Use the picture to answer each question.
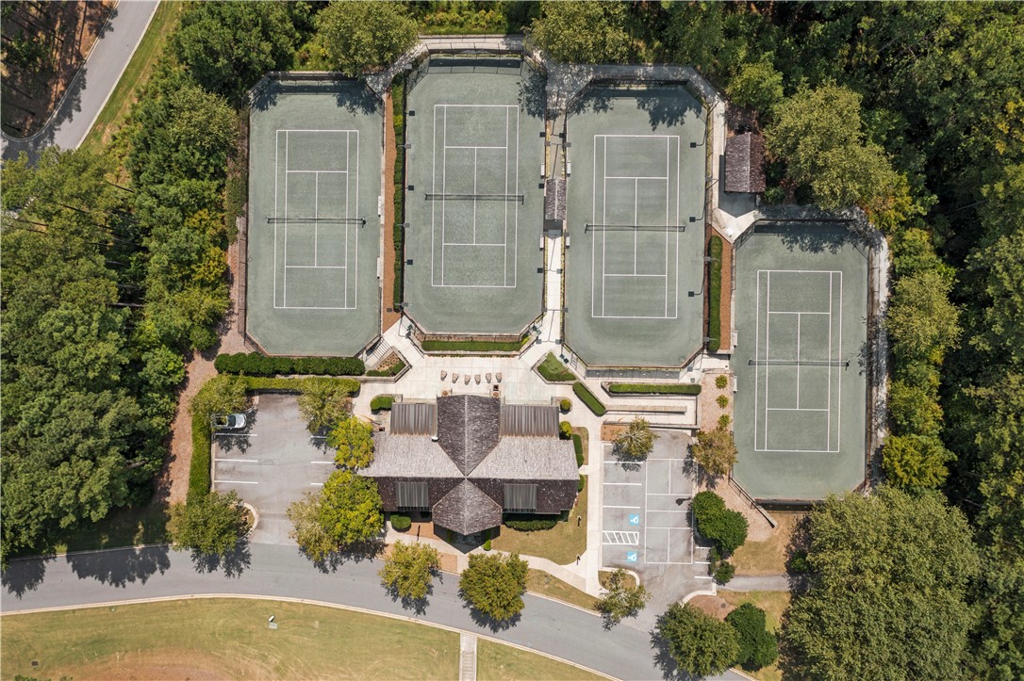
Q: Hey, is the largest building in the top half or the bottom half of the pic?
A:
bottom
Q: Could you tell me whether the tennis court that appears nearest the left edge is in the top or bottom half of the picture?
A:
top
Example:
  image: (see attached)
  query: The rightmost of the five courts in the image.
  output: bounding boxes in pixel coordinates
[730,218,872,501]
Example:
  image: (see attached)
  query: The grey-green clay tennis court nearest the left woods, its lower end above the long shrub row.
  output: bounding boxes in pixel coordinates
[244,80,385,357]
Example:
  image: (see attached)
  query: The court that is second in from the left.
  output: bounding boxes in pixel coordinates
[403,53,546,335]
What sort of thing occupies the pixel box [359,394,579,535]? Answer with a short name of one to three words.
building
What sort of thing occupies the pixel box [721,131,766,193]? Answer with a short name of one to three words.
building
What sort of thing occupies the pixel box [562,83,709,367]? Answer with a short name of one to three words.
tennis court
